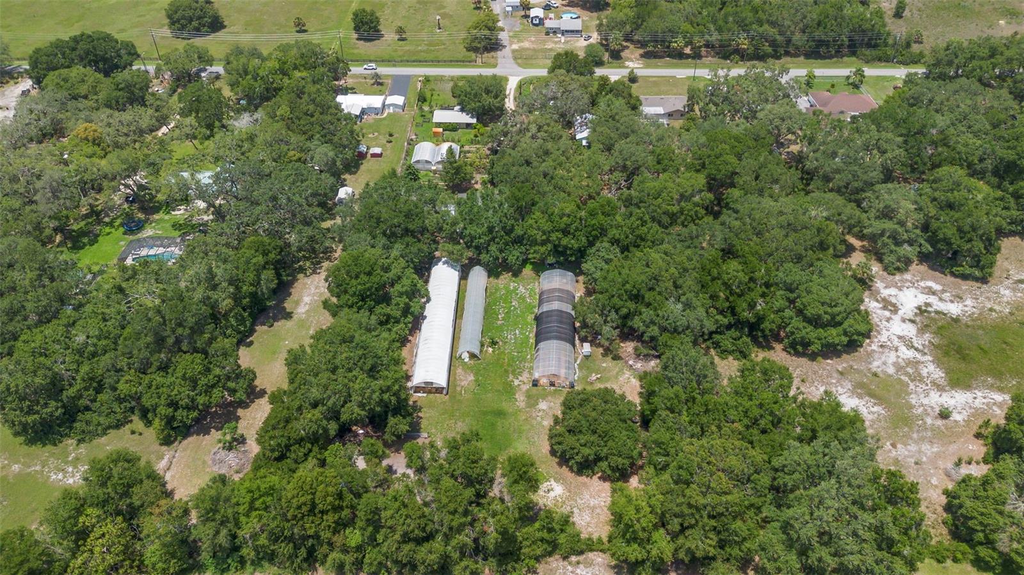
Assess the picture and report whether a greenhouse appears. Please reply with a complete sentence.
Yes, there is a greenhouse in the image.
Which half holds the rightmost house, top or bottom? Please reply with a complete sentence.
The rightmost house sits in the top half of the picture.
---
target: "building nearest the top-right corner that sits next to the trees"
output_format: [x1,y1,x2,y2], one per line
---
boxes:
[797,81,877,123]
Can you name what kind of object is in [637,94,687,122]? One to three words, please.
house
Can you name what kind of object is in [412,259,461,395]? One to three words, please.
greenhouse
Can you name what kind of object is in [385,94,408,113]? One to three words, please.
building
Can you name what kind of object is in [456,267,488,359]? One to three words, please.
greenhouse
